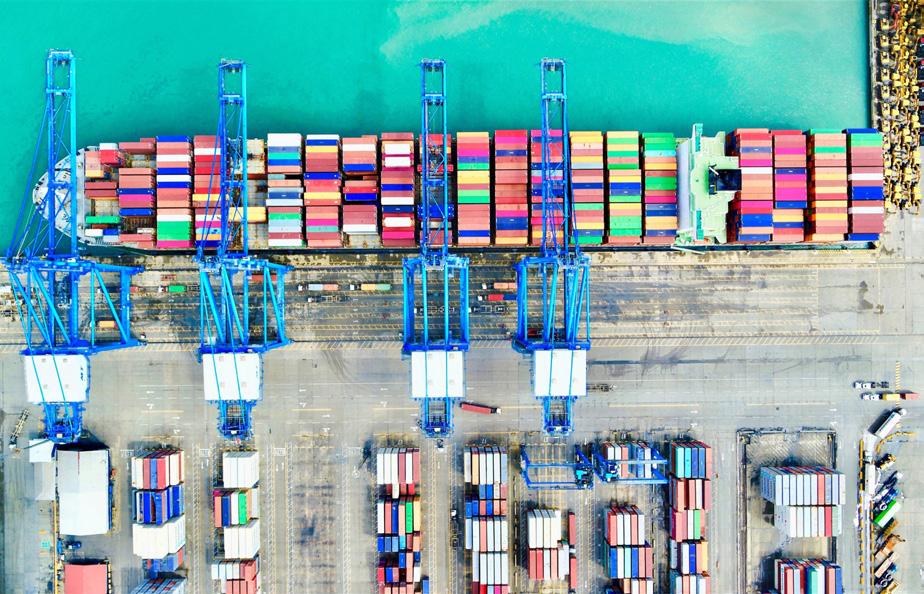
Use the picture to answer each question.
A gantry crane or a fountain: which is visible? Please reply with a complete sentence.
I can see a gantry crane in this picture.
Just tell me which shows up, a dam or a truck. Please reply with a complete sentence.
It is a truck that can be seen here.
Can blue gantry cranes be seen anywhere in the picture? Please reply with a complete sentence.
Yes, a blue gantry crane appears in the view.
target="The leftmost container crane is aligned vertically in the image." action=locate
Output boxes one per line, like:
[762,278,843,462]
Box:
[1,51,143,442]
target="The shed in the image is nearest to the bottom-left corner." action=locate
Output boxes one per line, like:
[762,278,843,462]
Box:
[63,561,112,594]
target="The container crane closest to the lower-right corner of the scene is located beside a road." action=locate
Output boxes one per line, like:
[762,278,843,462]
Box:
[596,442,670,487]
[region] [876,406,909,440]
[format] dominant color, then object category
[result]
white truck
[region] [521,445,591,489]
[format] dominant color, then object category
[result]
blue container crane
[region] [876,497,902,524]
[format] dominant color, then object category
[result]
white truck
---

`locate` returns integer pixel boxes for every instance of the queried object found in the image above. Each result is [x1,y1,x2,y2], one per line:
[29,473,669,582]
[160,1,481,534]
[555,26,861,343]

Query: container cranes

[401,60,471,439]
[510,59,592,437]
[596,442,670,487]
[1,51,143,442]
[194,61,294,441]
[521,445,591,489]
